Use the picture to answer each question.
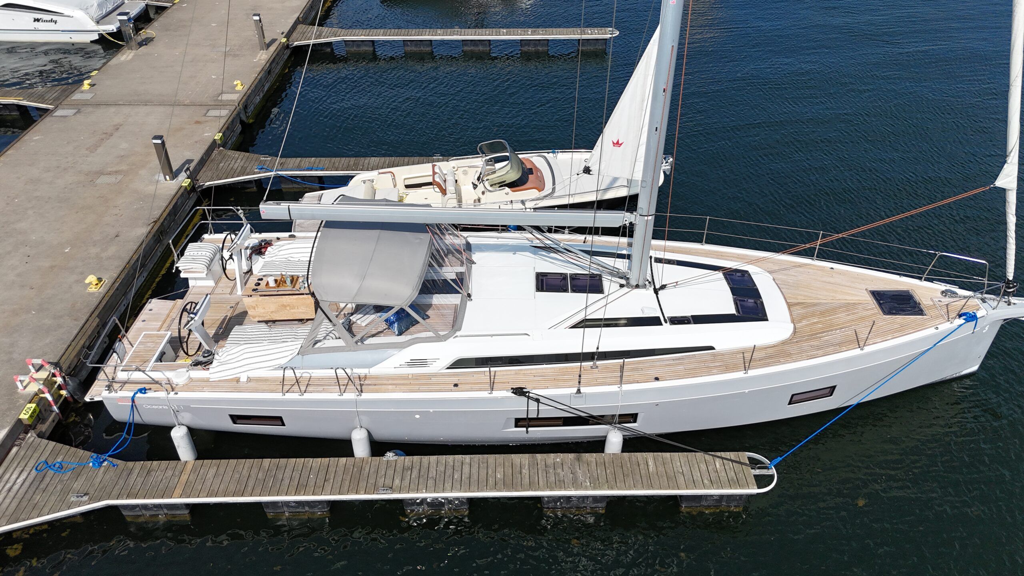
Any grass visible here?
No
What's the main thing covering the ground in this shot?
water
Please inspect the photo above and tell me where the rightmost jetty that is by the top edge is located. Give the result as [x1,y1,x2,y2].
[292,23,629,49]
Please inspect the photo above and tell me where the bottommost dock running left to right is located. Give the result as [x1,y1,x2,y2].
[0,437,785,529]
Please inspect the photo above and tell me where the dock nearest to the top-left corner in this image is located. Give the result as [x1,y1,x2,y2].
[0,84,82,114]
